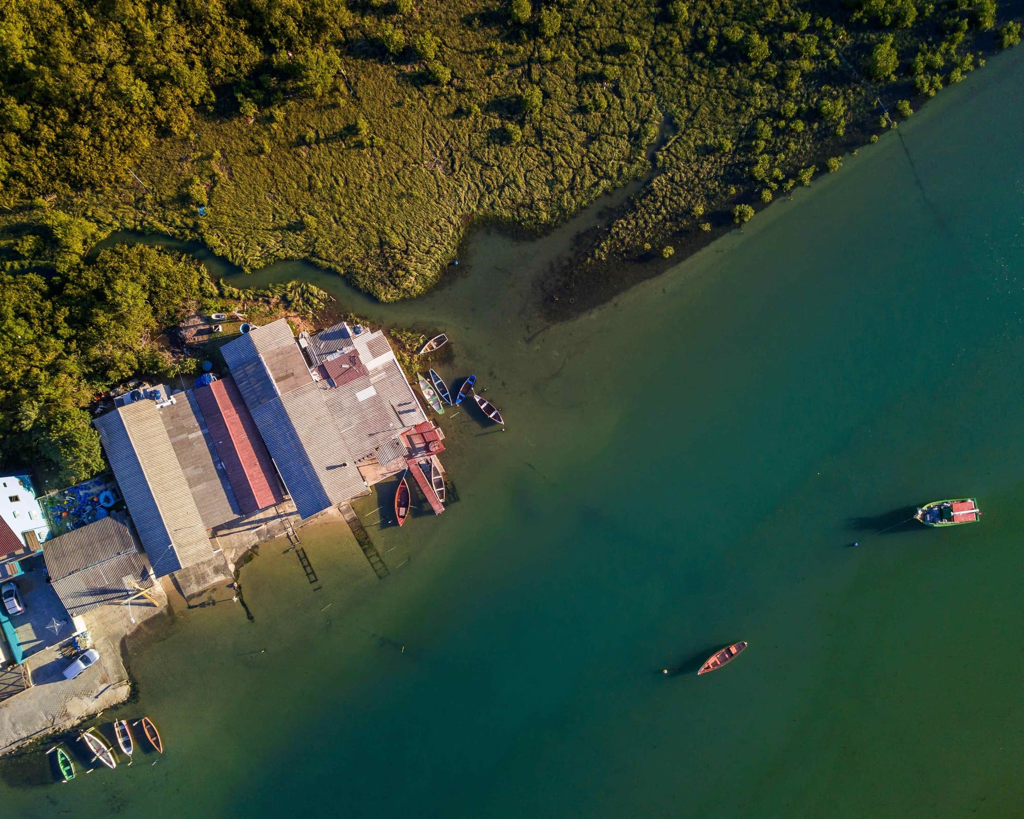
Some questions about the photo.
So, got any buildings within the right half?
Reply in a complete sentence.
No, looking within the right half, there is no building.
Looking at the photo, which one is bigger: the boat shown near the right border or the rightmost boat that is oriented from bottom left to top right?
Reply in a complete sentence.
The rightmost boat that is oriented from bottom left to top right is smaller than the boat shown near the right border.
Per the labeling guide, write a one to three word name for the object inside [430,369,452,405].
boat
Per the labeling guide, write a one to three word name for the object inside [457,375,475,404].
boat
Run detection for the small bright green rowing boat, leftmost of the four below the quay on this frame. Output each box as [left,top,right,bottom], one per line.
[56,747,75,781]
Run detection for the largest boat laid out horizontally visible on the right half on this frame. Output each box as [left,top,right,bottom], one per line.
[911,498,984,526]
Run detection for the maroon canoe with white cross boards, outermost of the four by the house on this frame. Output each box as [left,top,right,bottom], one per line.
[475,396,504,424]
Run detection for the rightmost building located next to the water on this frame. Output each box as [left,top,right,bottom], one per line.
[308,321,430,486]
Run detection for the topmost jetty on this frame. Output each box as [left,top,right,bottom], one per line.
[407,459,444,517]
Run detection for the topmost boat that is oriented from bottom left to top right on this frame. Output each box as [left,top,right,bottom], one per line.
[420,334,447,353]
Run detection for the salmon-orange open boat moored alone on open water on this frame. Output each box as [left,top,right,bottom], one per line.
[697,640,749,675]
